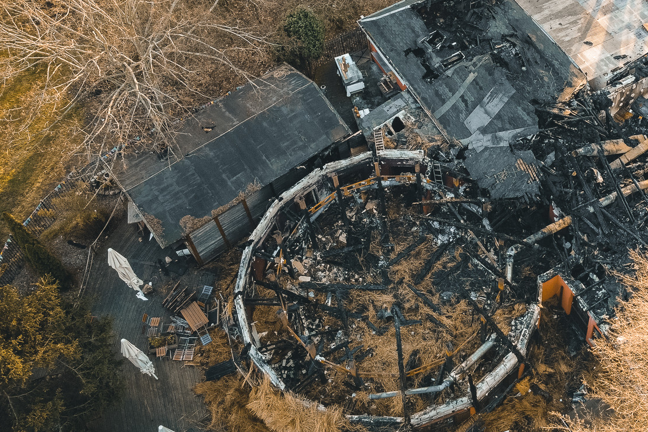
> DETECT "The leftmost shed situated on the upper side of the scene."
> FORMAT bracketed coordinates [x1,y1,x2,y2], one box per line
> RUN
[98,60,353,273]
